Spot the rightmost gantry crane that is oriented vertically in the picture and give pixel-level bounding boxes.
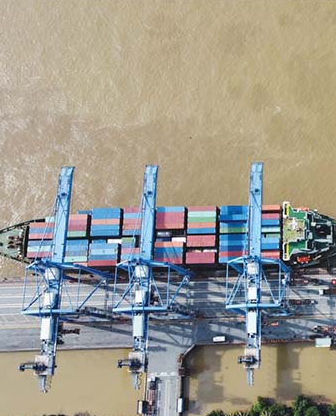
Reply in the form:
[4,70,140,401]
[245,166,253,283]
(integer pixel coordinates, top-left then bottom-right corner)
[225,162,297,386]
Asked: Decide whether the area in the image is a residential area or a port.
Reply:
port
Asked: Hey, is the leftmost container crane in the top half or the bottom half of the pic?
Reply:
bottom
